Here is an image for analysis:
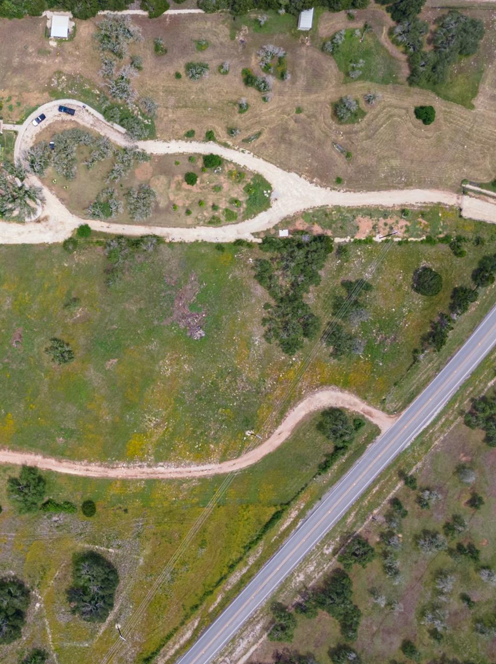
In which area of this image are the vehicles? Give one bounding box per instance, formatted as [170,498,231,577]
[58,105,76,115]
[31,111,47,127]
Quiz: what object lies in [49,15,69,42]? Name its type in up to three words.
barn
